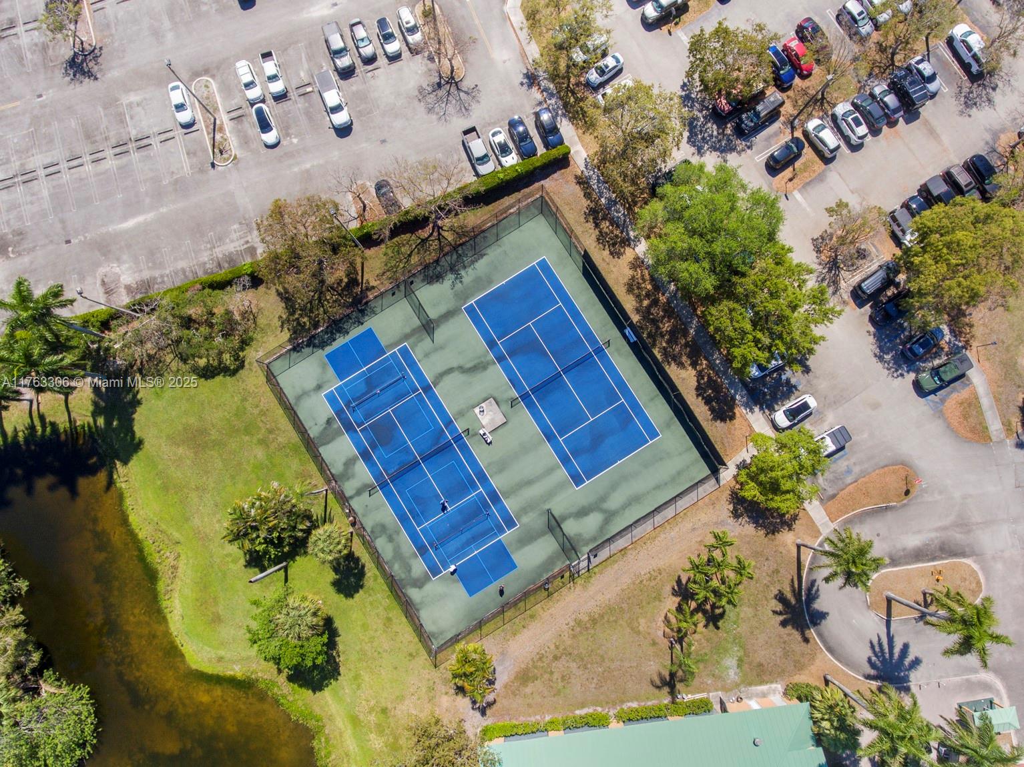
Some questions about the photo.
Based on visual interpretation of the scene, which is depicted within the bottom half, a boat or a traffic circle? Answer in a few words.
traffic circle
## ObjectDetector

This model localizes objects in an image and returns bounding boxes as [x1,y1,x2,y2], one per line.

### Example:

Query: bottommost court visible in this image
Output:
[406,464,519,601]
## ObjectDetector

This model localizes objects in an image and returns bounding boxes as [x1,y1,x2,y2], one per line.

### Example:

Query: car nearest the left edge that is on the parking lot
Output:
[169,84,197,127]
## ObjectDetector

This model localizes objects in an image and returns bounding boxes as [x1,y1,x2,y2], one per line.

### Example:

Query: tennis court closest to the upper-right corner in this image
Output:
[462,256,662,490]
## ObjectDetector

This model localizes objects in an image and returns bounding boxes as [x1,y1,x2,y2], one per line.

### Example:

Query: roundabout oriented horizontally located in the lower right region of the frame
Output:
[866,559,984,620]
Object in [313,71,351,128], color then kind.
white truck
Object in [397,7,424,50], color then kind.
white car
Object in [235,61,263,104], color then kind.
white car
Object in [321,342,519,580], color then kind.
blue tennis court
